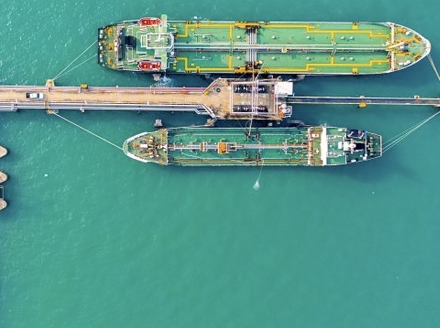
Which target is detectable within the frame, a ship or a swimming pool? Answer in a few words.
ship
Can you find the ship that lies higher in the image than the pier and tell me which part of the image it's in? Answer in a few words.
top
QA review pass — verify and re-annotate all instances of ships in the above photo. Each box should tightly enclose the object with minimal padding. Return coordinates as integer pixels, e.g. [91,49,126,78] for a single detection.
[124,127,381,166]
[98,14,431,76]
